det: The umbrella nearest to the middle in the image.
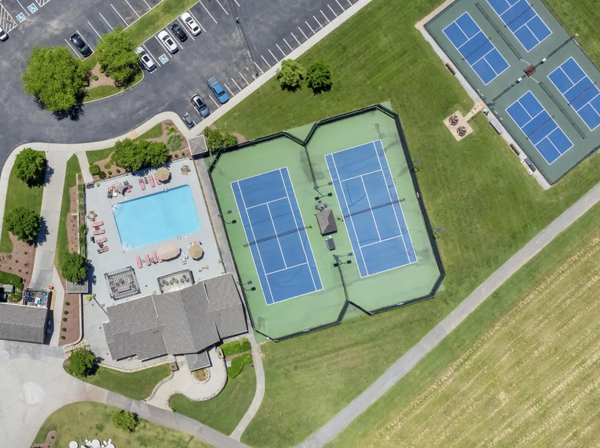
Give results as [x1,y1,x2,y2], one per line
[190,245,203,259]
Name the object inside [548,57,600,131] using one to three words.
sports court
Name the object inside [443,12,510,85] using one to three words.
sports court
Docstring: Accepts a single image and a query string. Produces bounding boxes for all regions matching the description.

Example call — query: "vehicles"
[0,24,9,42]
[190,93,212,118]
[70,32,91,58]
[171,22,188,44]
[205,75,230,105]
[157,29,179,55]
[182,115,194,129]
[180,12,202,37]
[137,47,157,73]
